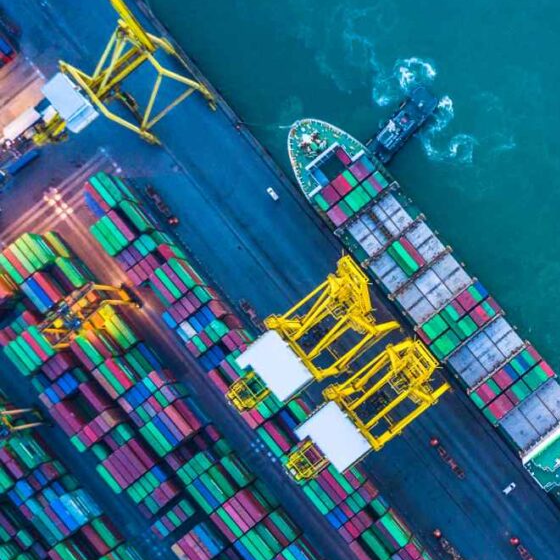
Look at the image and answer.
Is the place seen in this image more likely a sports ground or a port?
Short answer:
port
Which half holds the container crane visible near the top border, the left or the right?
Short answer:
left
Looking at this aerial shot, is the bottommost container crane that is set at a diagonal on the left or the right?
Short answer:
right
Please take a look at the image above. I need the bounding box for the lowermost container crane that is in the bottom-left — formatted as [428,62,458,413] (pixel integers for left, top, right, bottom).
[0,404,48,434]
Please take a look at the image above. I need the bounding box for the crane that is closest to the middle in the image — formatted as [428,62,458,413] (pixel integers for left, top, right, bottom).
[220,246,405,414]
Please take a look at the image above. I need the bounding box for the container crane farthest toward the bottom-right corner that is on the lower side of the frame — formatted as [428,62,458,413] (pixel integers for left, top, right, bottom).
[280,333,456,487]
